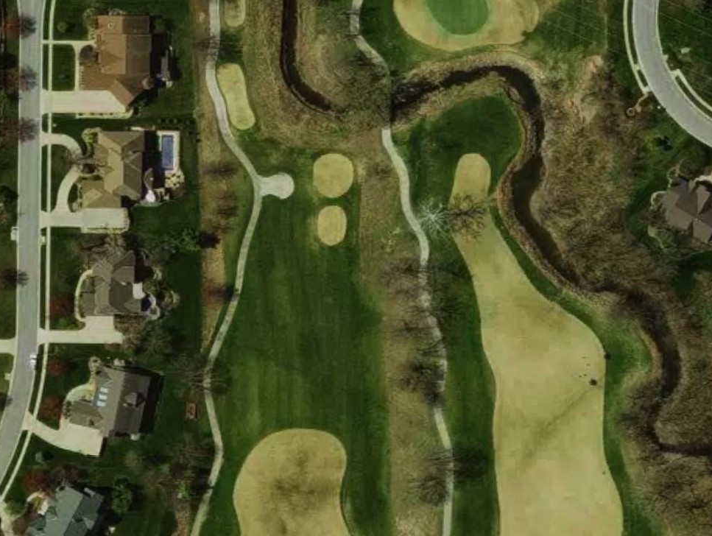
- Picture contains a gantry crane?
No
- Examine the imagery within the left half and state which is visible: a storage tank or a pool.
pool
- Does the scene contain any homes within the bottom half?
Yes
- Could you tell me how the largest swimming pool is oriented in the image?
vertically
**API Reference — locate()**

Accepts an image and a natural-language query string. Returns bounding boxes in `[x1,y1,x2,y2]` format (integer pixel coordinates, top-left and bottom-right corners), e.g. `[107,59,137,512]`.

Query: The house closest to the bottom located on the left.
[18,480,107,536]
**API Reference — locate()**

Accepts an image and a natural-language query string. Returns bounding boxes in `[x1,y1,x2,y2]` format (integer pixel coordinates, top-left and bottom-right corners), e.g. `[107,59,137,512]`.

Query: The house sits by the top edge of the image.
[83,13,168,108]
